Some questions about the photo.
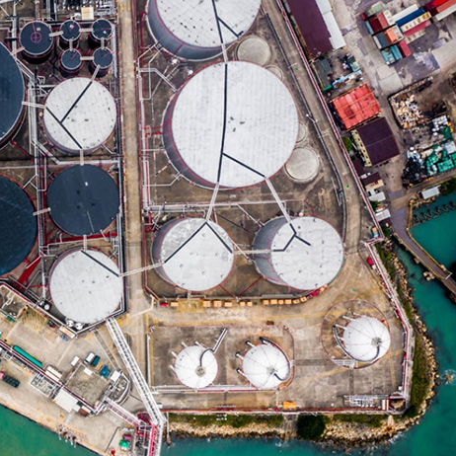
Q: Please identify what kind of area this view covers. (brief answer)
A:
industrial area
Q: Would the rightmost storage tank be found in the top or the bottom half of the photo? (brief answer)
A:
bottom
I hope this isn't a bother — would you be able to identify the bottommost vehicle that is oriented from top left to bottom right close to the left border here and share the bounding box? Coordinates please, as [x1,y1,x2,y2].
[0,370,20,387]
